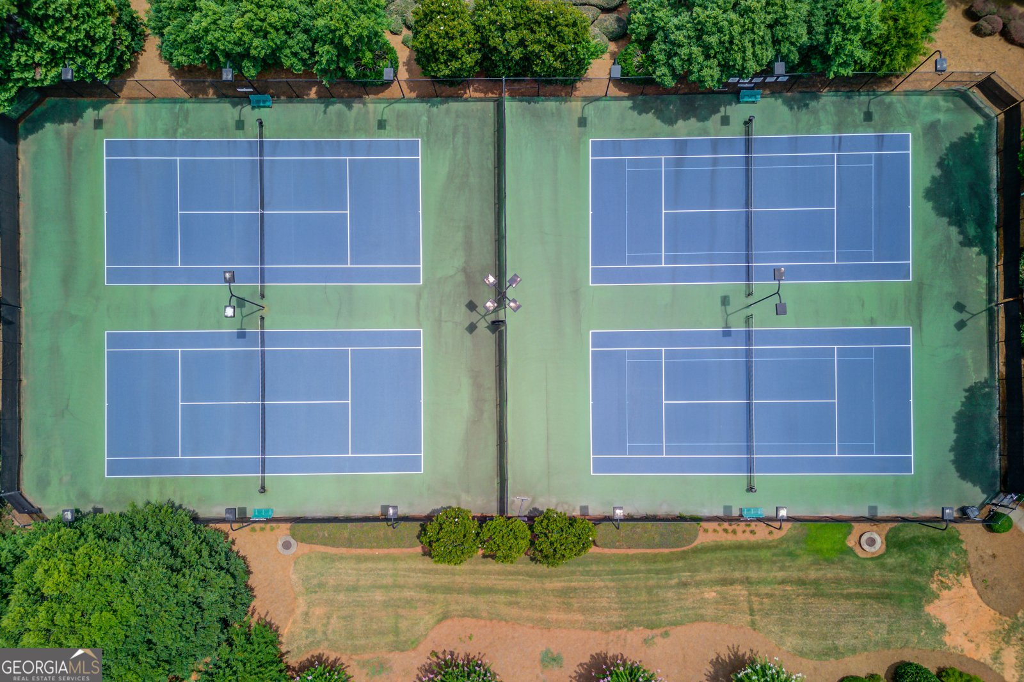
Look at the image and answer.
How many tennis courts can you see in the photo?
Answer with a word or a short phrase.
4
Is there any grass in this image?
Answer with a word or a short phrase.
Yes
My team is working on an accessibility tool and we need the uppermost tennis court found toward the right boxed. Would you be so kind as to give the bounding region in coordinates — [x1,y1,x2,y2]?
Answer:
[590,133,912,285]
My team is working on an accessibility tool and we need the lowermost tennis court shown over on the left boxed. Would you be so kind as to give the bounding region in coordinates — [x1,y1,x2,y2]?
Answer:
[104,329,423,478]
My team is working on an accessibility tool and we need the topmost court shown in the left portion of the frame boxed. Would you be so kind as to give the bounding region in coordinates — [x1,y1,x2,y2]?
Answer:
[104,138,422,285]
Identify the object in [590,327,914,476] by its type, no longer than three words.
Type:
tennis court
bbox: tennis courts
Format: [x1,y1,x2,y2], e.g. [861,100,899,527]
[104,138,422,285]
[104,329,423,478]
[590,327,914,476]
[590,133,912,285]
